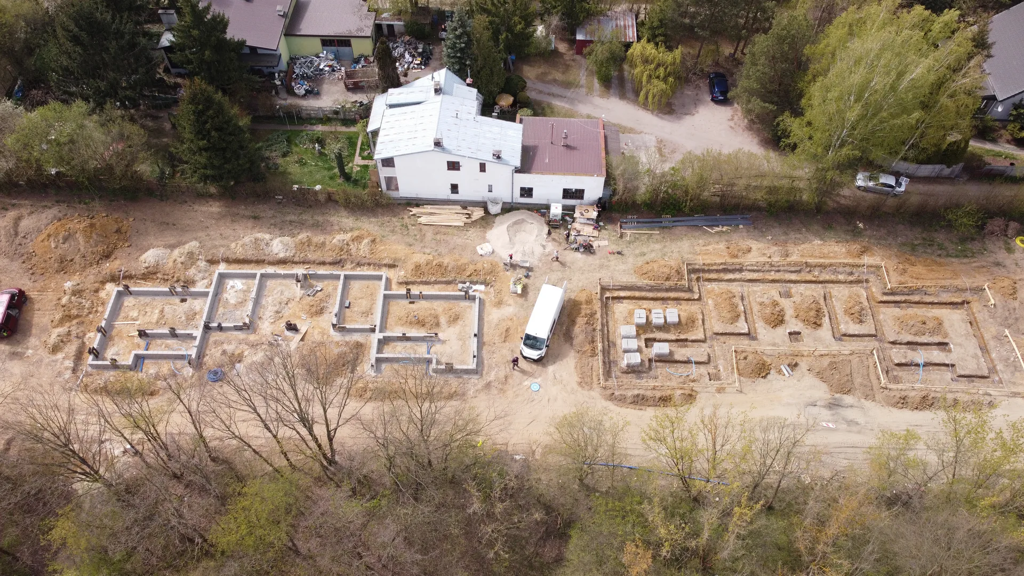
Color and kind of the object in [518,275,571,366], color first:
white van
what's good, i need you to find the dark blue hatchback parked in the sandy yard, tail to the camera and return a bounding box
[703,70,729,105]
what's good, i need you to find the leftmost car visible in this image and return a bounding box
[0,289,28,342]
